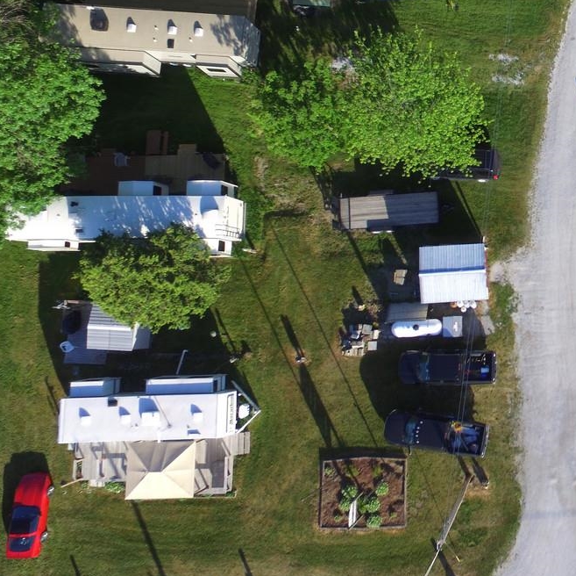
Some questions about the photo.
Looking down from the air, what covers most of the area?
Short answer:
grass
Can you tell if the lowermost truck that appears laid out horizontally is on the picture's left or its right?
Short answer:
right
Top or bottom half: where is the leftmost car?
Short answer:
bottom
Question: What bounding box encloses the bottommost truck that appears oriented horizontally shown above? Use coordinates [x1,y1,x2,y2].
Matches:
[384,409,493,458]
